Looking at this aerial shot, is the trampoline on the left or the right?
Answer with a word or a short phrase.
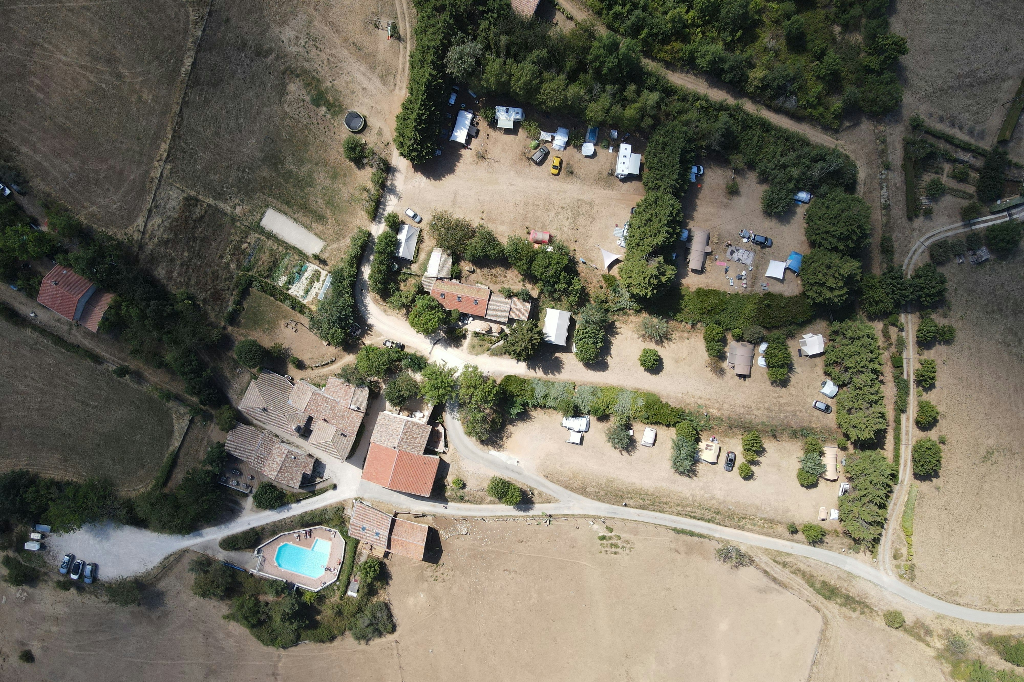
left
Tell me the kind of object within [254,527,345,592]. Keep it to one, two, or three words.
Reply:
swimming pool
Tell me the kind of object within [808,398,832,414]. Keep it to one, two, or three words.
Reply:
car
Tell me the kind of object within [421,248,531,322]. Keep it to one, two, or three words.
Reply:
house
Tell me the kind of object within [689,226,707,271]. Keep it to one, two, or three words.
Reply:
tent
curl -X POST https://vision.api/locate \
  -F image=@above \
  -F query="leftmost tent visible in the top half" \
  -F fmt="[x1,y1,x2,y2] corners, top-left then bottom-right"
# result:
[396,224,420,261]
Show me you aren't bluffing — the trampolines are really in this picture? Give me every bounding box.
[342,108,365,131]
